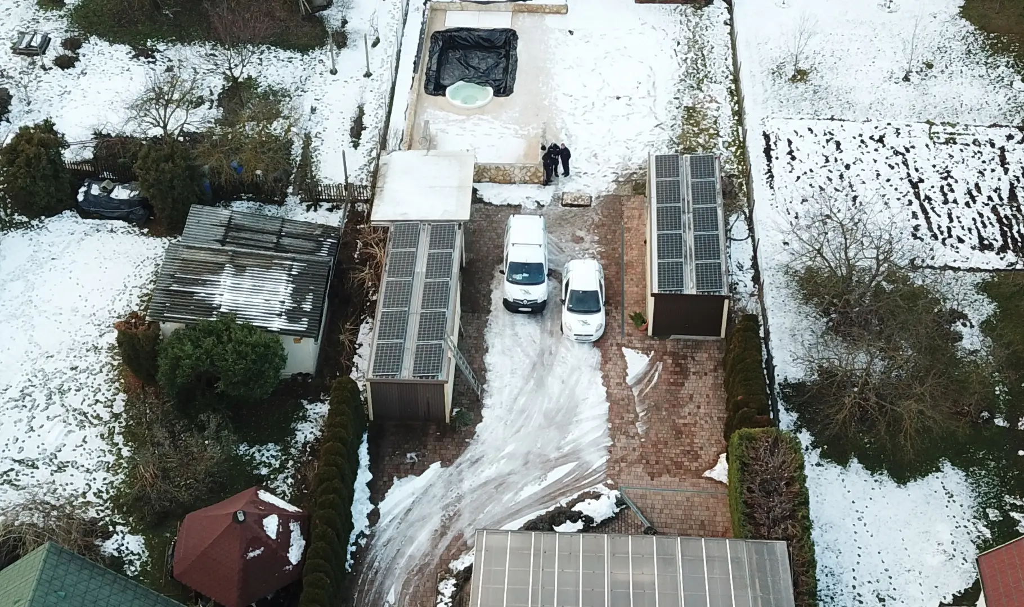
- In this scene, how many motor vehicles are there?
2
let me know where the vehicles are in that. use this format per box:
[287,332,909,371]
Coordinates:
[500,215,553,310]
[558,262,610,340]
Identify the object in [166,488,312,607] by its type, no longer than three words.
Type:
gazebo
